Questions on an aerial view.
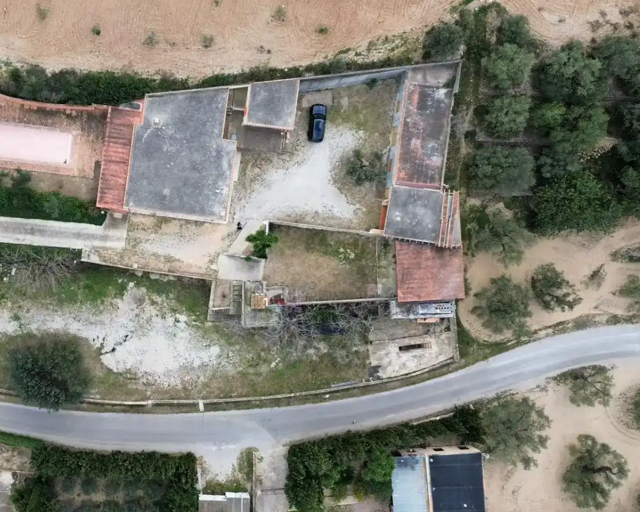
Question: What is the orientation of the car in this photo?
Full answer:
In this picture, the car lies from top to bottom.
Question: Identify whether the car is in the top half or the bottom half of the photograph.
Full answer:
The top half of the photo is where the car is.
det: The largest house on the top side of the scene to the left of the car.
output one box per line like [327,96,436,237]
[124,88,240,225]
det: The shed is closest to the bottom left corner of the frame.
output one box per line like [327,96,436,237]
[200,492,228,512]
